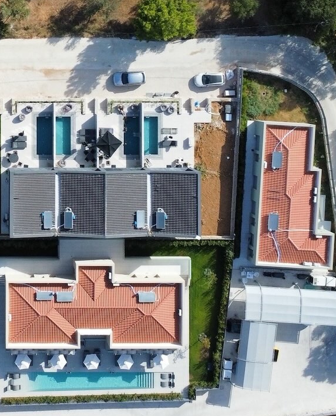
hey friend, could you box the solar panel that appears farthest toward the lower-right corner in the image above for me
[268,211,284,262]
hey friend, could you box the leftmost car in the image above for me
[115,71,147,87]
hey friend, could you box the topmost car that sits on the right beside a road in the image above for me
[195,72,228,89]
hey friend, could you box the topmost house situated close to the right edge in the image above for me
[244,120,333,268]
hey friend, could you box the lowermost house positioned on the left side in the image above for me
[2,257,183,347]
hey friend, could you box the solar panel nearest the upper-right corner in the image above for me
[272,127,297,172]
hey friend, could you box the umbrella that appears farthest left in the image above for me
[14,353,31,369]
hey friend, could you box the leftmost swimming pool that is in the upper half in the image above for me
[32,113,58,160]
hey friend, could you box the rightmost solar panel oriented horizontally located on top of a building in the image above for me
[119,283,173,303]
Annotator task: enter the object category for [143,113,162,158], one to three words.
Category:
swimming pool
